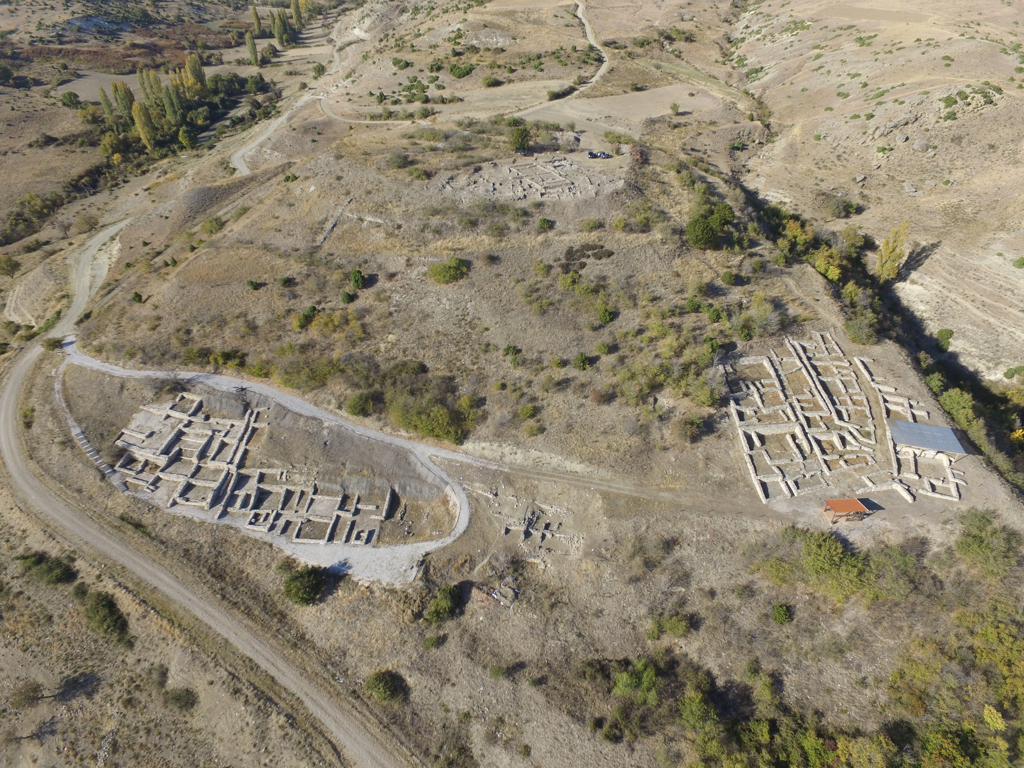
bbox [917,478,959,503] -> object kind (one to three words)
house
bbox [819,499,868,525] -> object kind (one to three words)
shed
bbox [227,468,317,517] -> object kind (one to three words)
house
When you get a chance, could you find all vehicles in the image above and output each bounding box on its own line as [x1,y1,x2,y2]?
[596,147,610,158]
[587,148,595,158]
